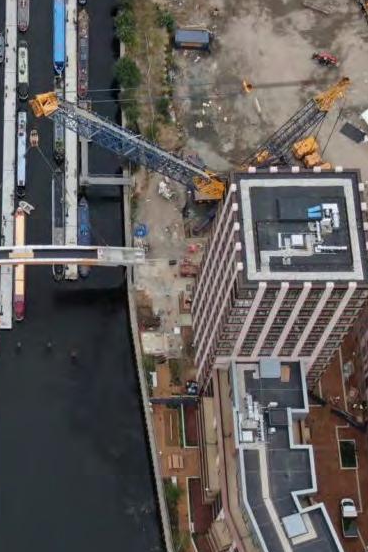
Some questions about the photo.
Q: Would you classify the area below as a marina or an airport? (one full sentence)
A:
The area seen from above is a marina.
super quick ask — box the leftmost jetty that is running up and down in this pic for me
[0,0,17,330]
